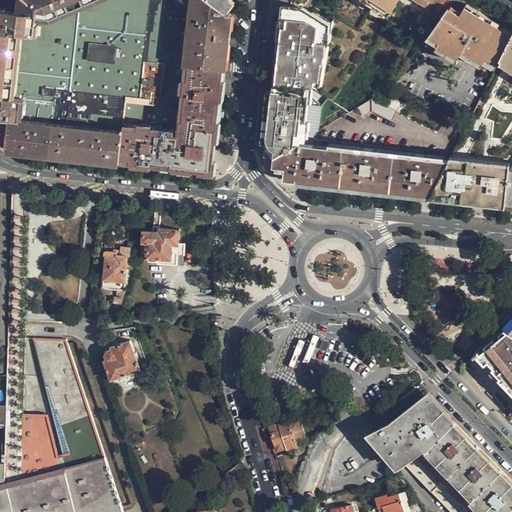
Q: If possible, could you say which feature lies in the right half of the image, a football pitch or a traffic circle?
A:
traffic circle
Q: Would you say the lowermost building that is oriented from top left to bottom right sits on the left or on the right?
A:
right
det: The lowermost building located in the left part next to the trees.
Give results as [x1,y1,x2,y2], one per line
[0,456,126,512]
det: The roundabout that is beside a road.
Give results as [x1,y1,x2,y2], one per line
[288,224,381,314]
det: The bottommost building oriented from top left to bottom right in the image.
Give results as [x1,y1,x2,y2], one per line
[409,462,456,512]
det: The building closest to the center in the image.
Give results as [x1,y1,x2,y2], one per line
[140,212,186,265]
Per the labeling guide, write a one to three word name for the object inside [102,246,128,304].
building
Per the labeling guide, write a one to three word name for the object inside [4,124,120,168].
building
